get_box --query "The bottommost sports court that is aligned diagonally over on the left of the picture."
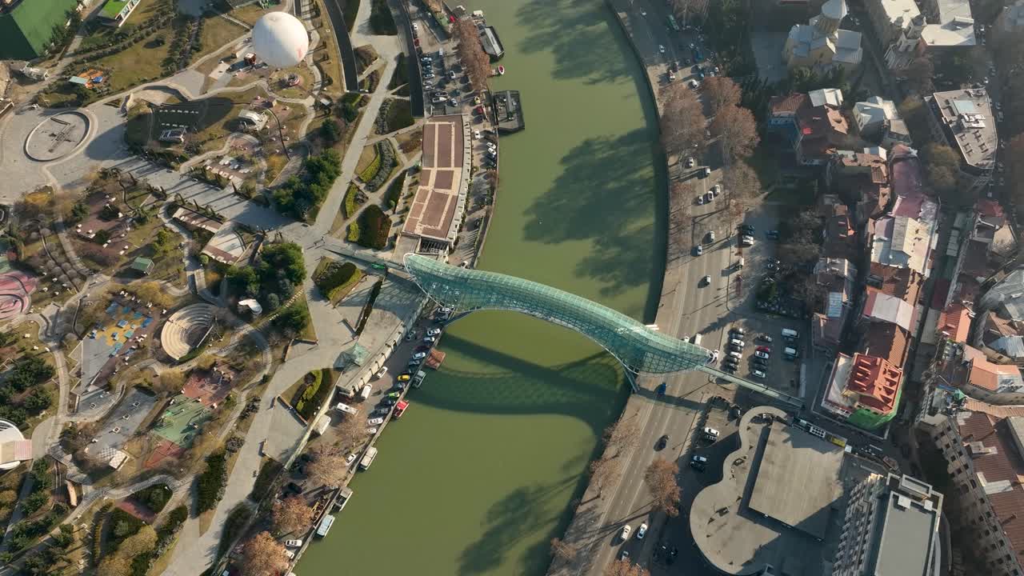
[144,368,232,469]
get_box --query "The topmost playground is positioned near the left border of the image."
[0,253,40,319]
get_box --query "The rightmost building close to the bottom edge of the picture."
[934,424,1024,576]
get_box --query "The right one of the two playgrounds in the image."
[87,302,157,354]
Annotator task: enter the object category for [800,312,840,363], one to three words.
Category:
house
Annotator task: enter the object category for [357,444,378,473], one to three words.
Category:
boat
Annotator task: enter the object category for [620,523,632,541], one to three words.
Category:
vehicle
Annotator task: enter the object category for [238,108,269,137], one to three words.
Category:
building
